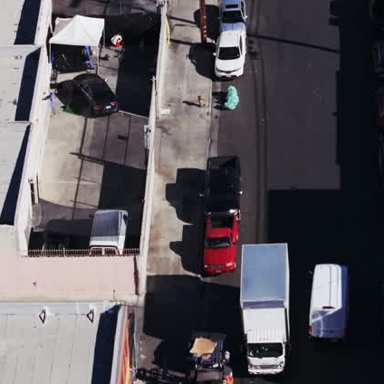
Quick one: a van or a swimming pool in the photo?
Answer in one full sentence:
The image shows a van.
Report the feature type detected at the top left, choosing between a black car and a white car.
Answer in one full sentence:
What appears at the top left is a black car.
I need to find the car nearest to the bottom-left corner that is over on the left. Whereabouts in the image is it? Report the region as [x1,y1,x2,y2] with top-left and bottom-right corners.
[49,222,88,253]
